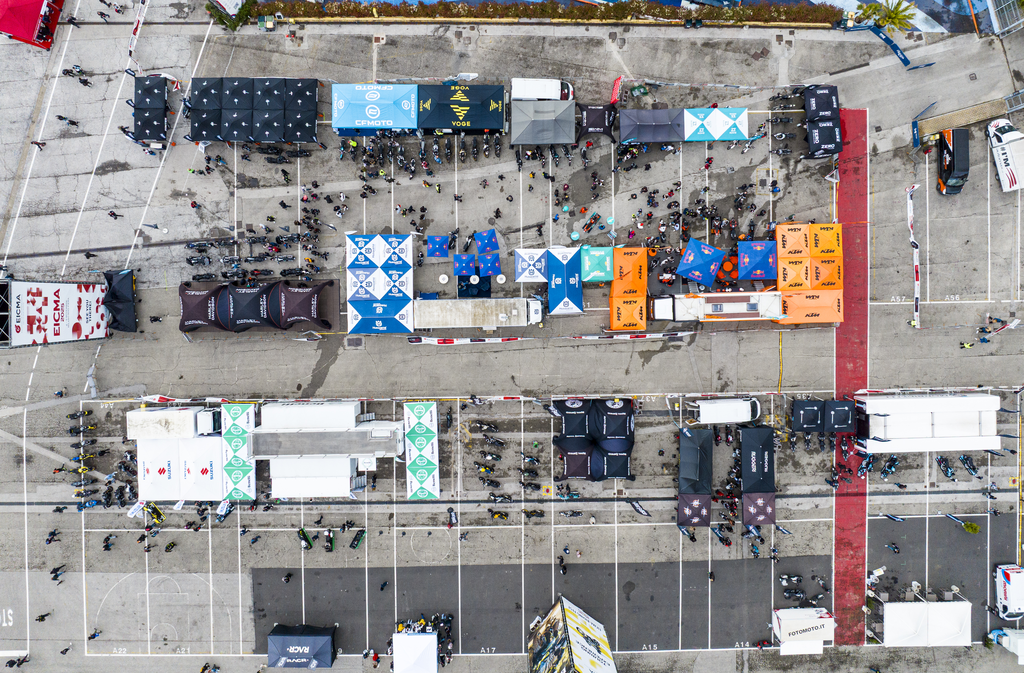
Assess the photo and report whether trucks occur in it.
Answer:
Yes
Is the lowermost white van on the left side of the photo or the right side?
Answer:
right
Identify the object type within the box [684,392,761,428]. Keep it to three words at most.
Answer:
van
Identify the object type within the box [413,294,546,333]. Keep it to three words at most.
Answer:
truck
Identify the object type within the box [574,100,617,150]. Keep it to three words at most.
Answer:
tent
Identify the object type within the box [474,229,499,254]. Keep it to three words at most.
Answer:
umbrella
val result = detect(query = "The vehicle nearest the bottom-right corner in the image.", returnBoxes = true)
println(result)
[988,628,1024,662]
